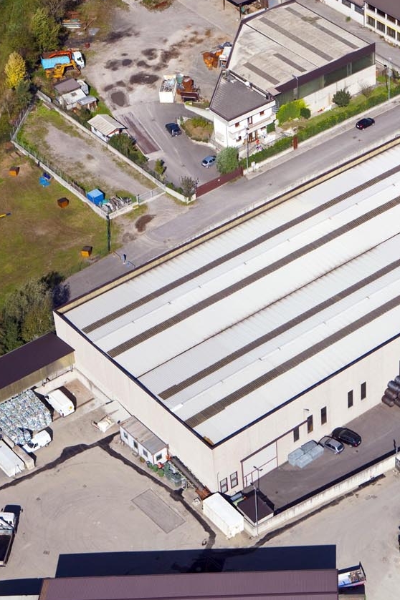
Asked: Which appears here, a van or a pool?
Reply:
van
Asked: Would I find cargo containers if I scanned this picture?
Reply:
Yes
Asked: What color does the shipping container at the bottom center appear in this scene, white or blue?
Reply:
white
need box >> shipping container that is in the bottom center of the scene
[198,488,244,537]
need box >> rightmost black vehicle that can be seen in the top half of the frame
[354,117,377,131]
